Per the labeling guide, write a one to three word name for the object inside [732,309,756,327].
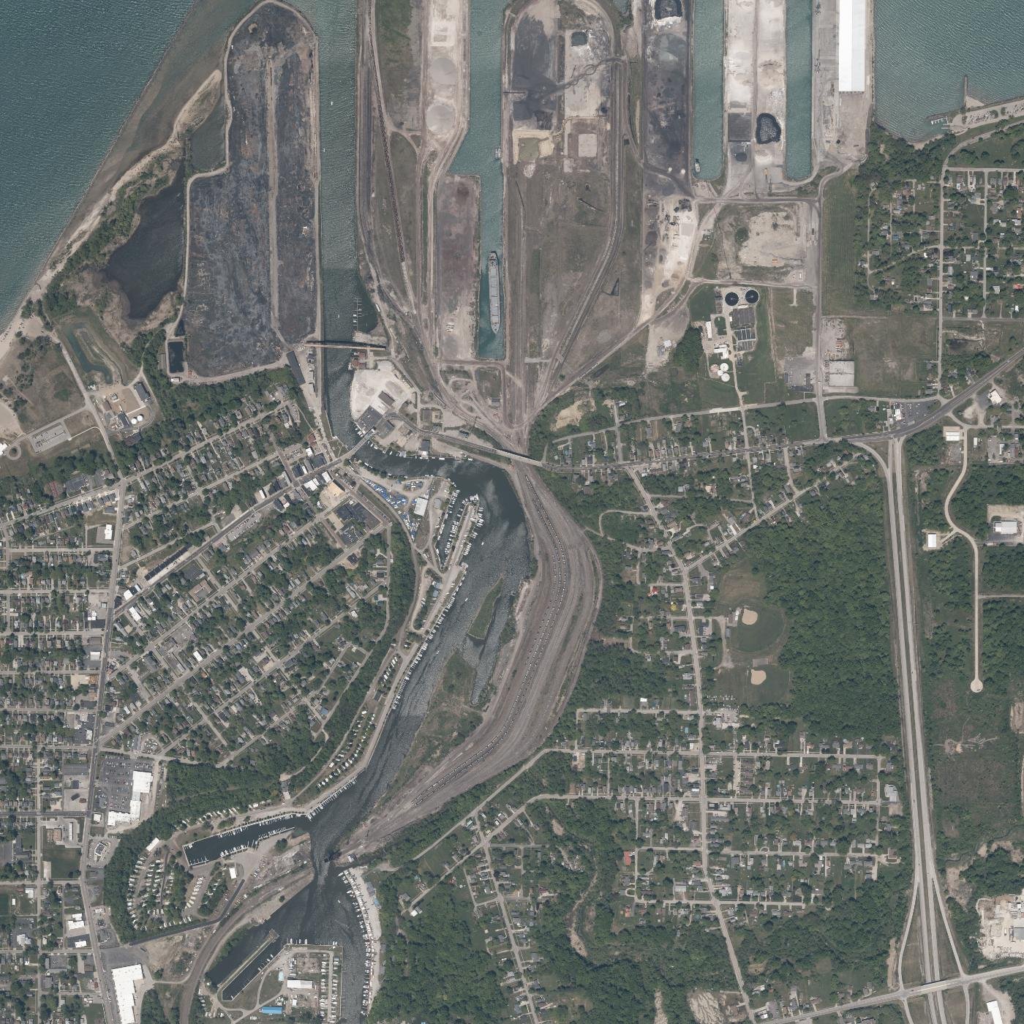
house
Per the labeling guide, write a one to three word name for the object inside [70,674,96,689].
building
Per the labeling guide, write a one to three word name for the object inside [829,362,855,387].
building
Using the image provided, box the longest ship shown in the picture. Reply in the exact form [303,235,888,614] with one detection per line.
[488,250,501,334]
